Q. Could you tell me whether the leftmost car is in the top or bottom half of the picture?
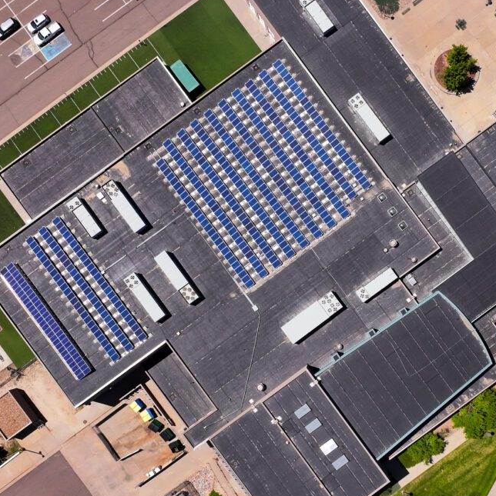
top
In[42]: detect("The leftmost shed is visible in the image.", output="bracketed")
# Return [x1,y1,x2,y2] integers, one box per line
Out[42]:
[0,390,39,441]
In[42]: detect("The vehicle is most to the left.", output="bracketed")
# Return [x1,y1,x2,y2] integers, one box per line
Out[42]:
[0,18,22,40]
